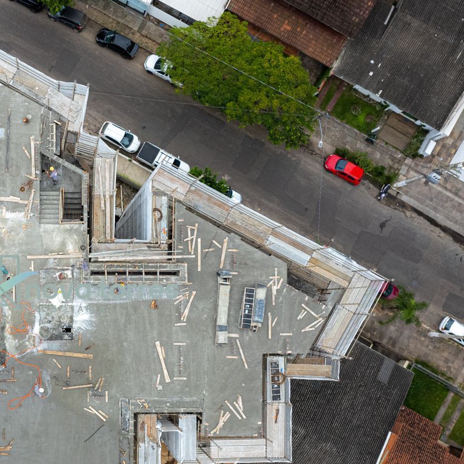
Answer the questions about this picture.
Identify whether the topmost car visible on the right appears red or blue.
red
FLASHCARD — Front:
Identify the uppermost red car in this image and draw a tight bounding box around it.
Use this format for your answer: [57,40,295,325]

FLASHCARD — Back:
[324,152,370,186]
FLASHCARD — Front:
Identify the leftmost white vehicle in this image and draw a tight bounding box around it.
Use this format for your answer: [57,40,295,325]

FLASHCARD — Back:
[96,117,142,153]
